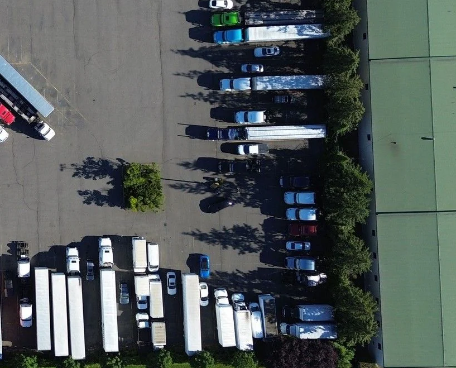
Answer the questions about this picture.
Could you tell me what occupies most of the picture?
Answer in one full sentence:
The scene is dominated by paved ground.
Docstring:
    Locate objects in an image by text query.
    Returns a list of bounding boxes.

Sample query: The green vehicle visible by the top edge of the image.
[209,10,251,27]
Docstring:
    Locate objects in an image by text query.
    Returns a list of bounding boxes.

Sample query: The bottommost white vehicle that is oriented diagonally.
[21,111,54,143]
